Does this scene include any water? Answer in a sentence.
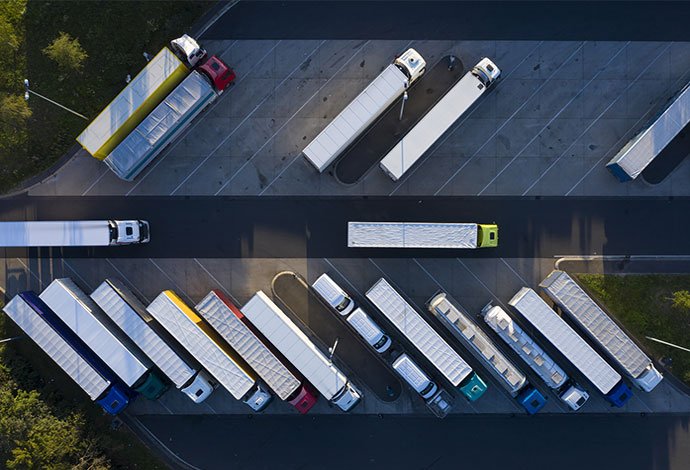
No, there's no water in this view.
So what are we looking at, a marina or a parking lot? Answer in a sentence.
It's a parking lot.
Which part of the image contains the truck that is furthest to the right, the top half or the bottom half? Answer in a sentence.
You can find the truck that is furthest to the right in the top half.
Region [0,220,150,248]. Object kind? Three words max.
truck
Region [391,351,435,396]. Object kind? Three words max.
van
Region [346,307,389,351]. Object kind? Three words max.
van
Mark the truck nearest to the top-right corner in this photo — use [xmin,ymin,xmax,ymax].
[605,78,690,182]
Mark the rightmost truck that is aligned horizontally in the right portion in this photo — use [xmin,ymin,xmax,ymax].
[347,222,497,250]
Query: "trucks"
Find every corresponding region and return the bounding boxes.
[241,290,365,415]
[507,287,634,408]
[310,269,454,416]
[347,222,497,250]
[0,220,150,248]
[379,56,502,182]
[365,277,488,401]
[2,291,137,415]
[605,78,690,182]
[424,289,546,411]
[76,33,208,160]
[476,300,586,411]
[147,290,276,415]
[196,290,320,415]
[39,277,172,402]
[303,50,426,172]
[105,57,237,180]
[538,270,662,395]
[89,279,219,404]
